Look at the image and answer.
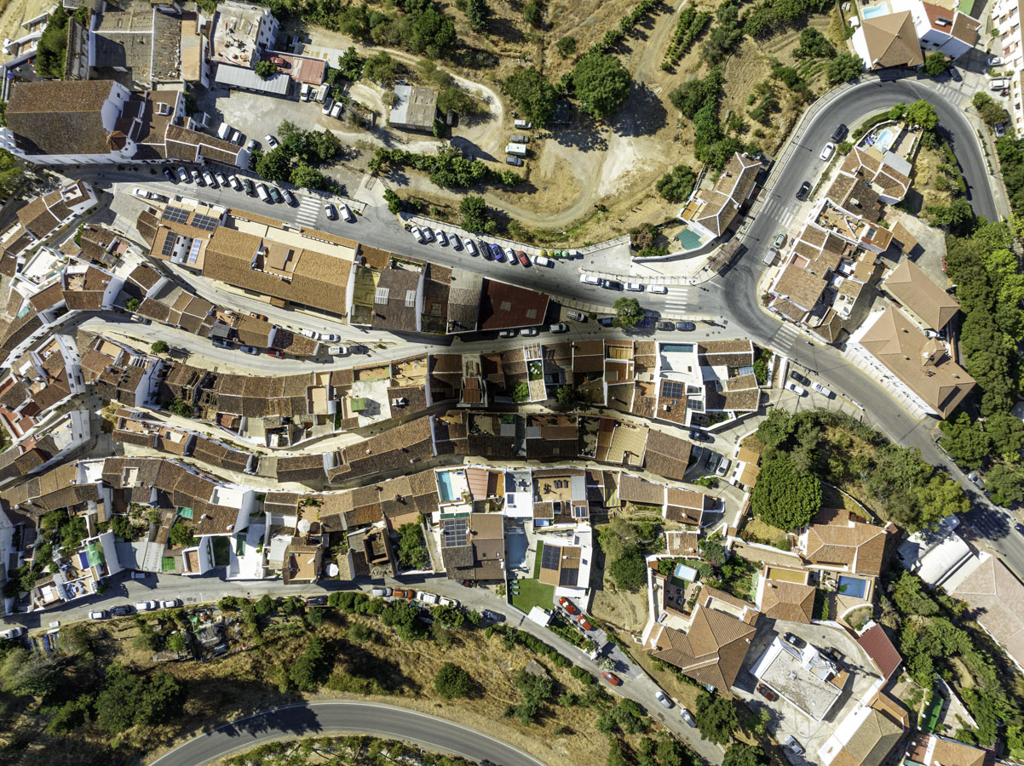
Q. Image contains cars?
Yes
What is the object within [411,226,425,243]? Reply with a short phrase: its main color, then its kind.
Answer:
white car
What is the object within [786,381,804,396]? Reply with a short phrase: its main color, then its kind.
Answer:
white car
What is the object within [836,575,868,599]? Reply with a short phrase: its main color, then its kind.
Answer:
blue swimming pool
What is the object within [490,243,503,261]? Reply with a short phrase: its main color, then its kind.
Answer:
blue vehicle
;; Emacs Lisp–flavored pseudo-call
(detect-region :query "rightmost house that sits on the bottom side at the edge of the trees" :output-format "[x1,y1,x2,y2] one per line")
[943,551,1024,673]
